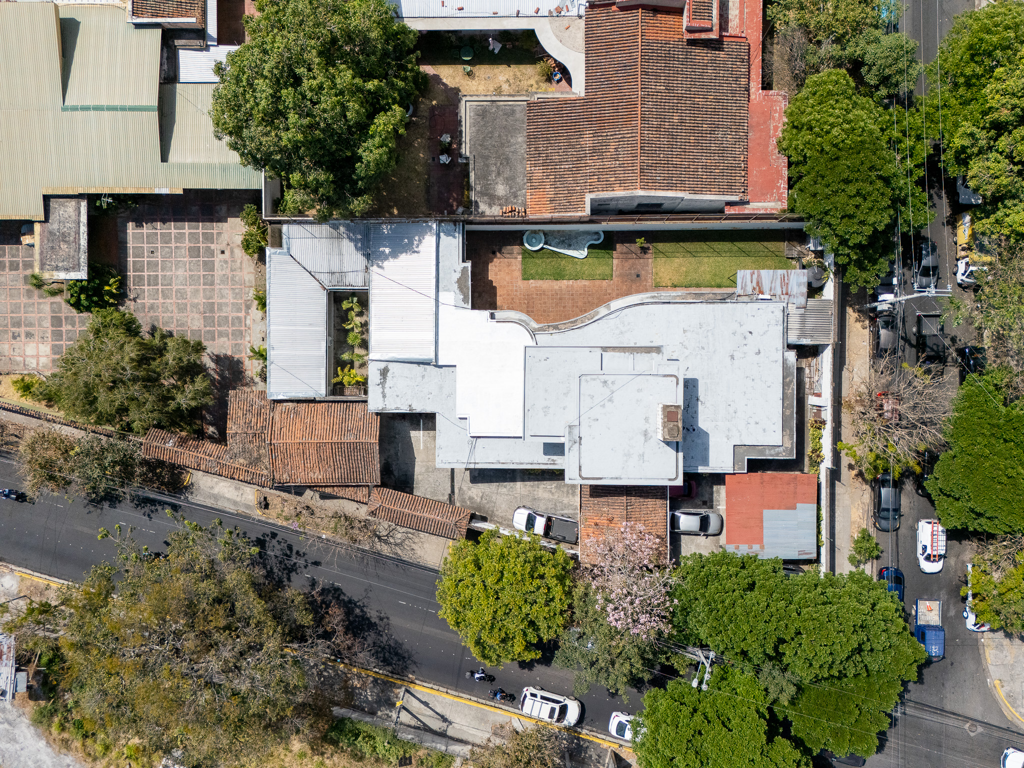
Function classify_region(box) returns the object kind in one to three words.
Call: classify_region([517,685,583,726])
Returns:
car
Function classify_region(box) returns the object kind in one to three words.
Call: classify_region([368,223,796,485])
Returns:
house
